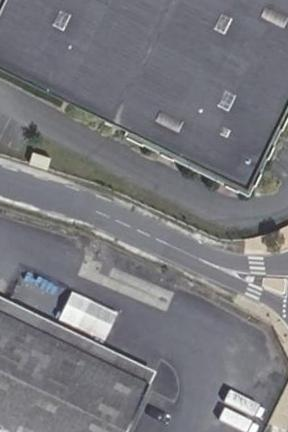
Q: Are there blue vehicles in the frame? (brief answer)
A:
No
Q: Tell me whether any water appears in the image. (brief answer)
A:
No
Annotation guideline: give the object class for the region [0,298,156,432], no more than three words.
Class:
building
